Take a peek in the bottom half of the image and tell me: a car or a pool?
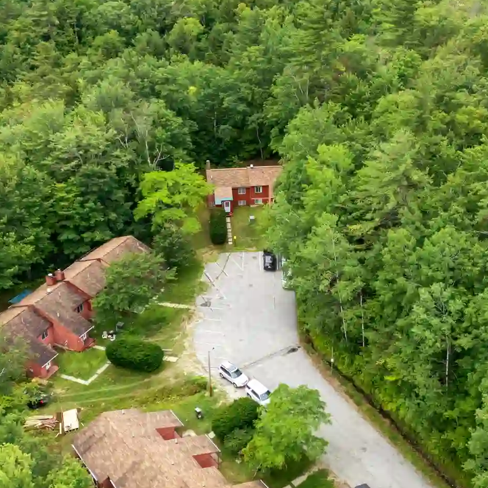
car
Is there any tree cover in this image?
Yes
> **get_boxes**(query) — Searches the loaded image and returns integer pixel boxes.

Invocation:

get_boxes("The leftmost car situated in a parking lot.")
[217,360,247,387]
